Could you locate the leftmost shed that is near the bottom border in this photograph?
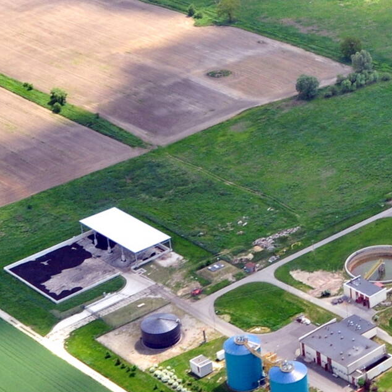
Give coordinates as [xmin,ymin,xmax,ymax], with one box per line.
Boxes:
[189,355,212,377]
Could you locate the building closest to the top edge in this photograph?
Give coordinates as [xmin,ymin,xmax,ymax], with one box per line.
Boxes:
[343,274,389,308]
